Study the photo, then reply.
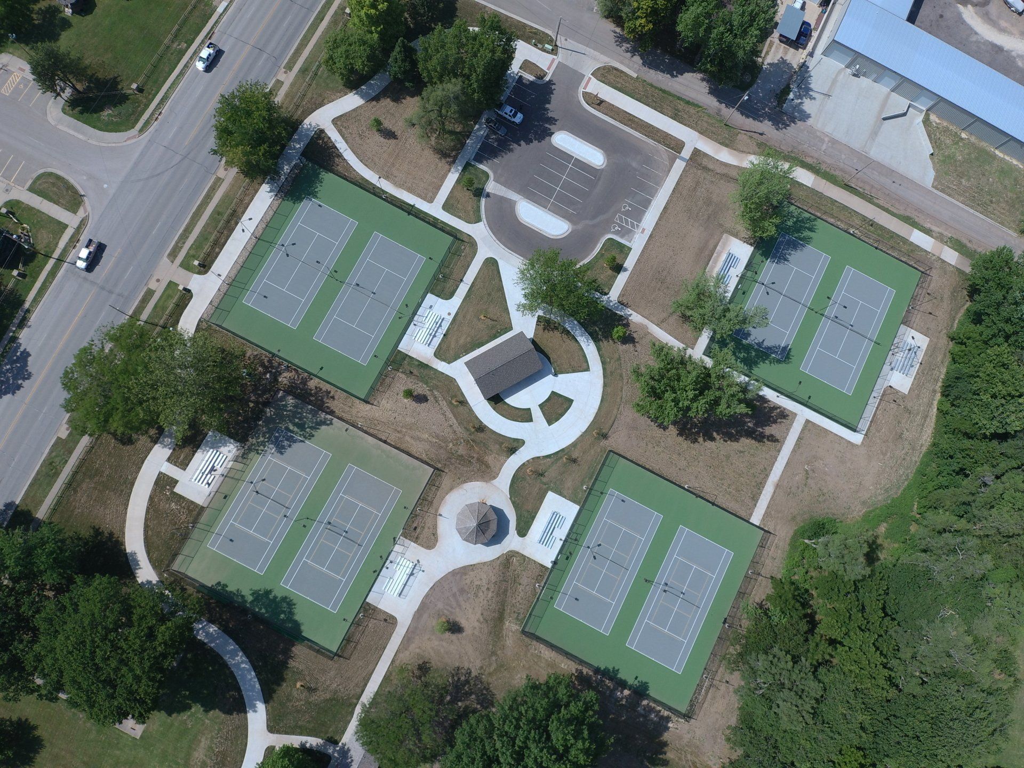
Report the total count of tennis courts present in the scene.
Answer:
8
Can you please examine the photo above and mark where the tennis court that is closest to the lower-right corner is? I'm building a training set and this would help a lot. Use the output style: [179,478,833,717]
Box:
[626,525,734,674]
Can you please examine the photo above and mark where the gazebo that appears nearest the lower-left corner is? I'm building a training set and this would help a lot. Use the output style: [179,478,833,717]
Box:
[455,501,498,546]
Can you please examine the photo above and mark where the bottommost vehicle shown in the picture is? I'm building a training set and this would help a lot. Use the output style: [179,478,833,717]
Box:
[74,238,100,271]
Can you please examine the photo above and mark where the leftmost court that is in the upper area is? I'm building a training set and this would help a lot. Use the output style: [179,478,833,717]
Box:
[243,196,358,329]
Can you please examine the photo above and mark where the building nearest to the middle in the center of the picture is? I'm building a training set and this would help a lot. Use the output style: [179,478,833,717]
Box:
[465,332,543,400]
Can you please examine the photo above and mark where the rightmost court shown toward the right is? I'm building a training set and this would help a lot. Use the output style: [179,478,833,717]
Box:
[801,266,896,395]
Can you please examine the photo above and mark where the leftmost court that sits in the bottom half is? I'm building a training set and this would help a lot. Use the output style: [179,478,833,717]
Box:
[208,426,331,575]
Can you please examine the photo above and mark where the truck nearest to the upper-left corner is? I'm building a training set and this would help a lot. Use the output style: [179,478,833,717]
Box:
[193,41,219,70]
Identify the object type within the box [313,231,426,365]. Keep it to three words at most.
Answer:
tennis court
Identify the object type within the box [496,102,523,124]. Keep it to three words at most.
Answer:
truck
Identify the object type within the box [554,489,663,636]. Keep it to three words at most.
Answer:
tennis court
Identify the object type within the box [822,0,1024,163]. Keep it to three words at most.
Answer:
building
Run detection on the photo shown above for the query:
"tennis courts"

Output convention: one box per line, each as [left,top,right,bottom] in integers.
[313,231,426,365]
[281,464,402,614]
[733,232,830,360]
[626,525,734,674]
[243,196,358,329]
[801,266,896,395]
[554,489,663,636]
[208,426,331,575]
